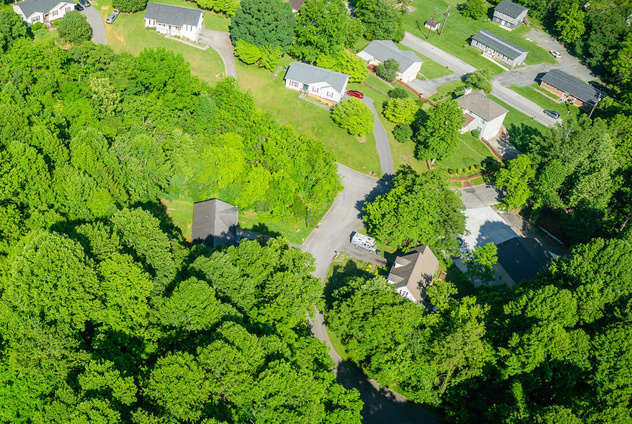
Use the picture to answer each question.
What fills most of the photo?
trees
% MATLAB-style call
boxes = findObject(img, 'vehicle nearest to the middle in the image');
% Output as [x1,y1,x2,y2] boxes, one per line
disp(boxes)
[350,231,378,252]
